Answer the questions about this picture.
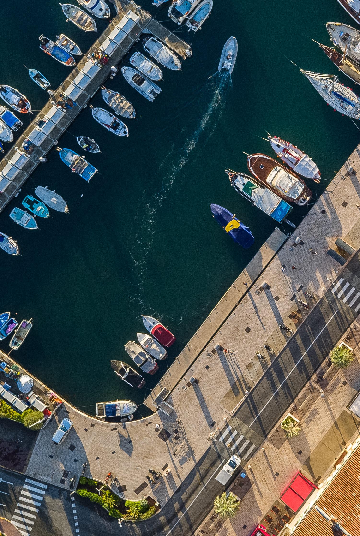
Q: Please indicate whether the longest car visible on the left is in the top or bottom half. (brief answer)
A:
bottom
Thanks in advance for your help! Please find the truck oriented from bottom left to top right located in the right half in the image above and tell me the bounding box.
[213,452,243,490]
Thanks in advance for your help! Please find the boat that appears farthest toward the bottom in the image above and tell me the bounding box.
[96,400,137,417]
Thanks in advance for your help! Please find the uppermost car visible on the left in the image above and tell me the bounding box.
[51,415,74,448]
